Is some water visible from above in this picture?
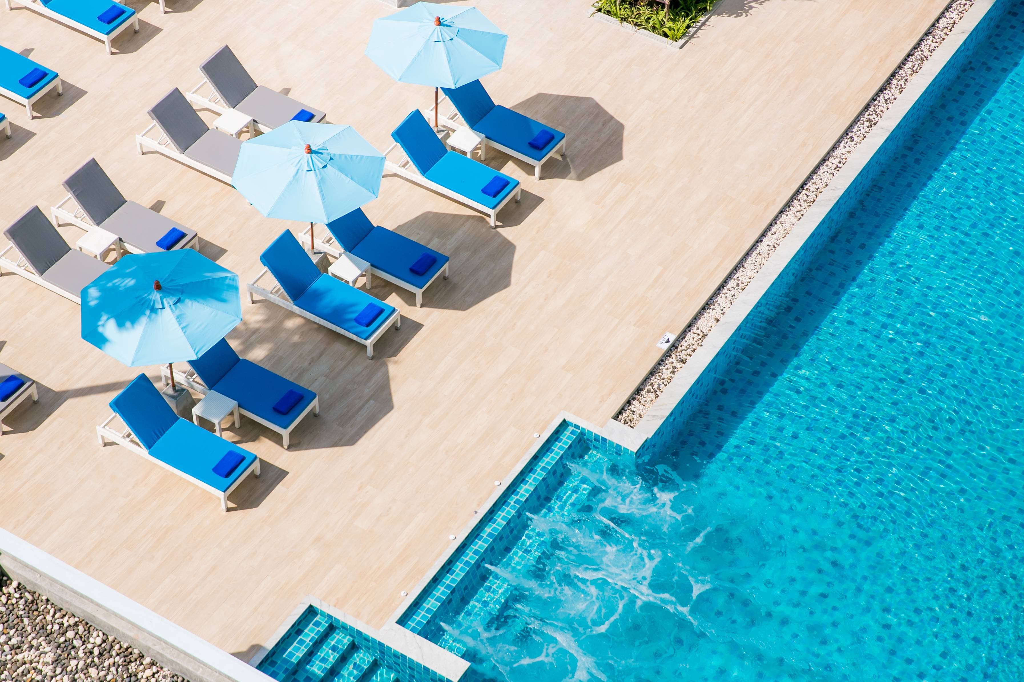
Yes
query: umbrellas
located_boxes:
[81,250,244,417]
[231,120,387,272]
[366,0,508,142]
